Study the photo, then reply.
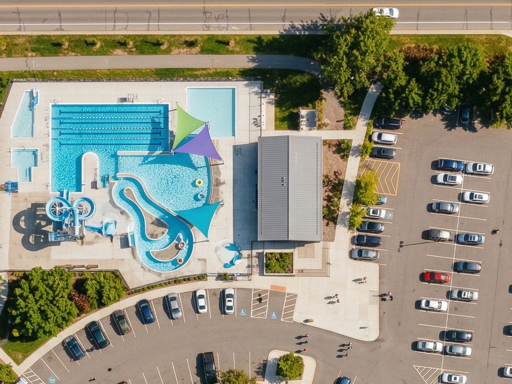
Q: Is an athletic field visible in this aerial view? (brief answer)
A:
No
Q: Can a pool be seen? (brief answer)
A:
Yes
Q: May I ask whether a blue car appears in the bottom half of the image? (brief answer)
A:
Yes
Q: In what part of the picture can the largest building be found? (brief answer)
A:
center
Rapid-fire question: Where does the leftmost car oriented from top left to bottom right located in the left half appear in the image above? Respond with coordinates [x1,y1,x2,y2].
[67,336,88,362]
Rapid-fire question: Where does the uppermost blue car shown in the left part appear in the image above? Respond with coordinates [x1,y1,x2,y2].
[138,298,155,325]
